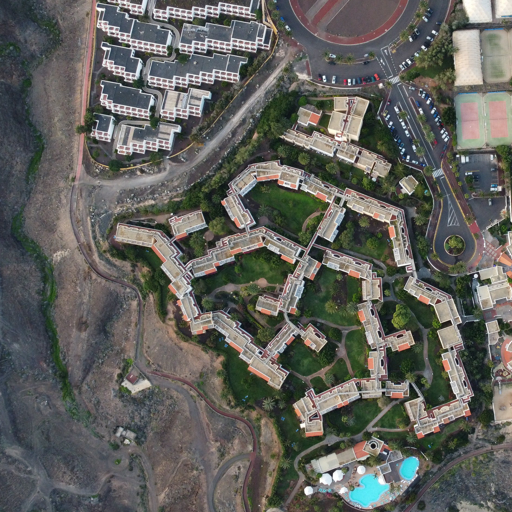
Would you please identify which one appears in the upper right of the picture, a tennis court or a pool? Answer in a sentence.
What appears in the upper right of the picture is a tennis court.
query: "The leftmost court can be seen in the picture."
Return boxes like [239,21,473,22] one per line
[455,91,486,148]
